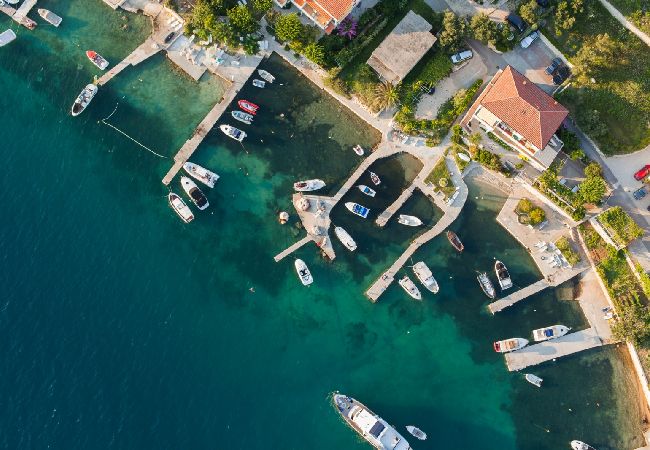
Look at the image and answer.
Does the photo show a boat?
Yes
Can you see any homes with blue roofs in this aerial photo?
No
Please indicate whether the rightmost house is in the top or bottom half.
top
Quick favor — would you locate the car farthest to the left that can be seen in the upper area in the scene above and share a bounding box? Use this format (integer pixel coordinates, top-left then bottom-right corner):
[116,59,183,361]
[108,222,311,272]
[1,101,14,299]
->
[449,49,473,65]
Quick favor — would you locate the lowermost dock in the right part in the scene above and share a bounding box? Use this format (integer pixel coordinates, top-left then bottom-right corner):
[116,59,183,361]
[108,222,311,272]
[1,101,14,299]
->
[503,326,602,371]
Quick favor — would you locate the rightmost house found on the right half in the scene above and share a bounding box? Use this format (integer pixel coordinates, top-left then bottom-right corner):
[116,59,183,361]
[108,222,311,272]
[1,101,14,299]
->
[461,65,569,171]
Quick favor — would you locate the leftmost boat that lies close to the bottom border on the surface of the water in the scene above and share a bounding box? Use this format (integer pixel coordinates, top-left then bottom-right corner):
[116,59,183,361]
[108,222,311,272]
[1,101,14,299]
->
[334,394,416,450]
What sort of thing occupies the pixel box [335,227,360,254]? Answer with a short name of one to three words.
boat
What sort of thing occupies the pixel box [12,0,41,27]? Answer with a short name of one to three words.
pier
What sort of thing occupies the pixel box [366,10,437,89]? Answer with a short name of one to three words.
house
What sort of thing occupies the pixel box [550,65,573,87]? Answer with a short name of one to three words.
car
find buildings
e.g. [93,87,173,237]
[265,0,361,51]
[461,65,569,171]
[366,10,437,89]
